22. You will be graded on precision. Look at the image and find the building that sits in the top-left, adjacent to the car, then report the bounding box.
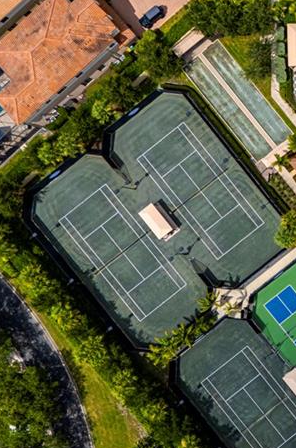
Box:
[0,0,141,127]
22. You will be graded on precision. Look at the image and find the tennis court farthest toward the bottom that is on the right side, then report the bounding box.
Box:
[201,346,296,448]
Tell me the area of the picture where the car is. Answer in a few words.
top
